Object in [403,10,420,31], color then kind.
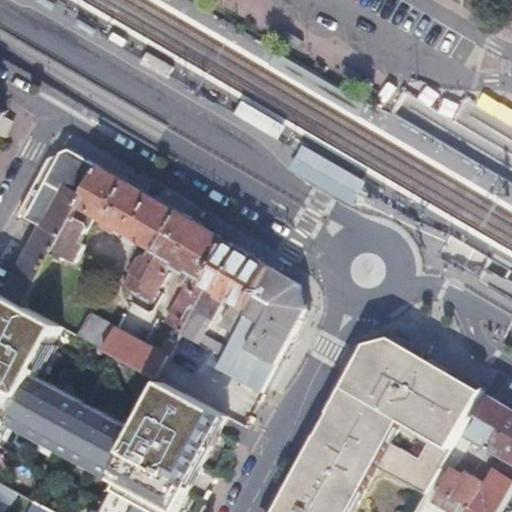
white car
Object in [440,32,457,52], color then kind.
white car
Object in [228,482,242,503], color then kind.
gray car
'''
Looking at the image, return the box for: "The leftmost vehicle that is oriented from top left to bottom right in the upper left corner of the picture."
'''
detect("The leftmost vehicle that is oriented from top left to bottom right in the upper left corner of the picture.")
[10,75,31,92]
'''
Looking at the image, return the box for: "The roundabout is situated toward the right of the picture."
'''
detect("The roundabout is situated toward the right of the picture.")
[350,251,386,288]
